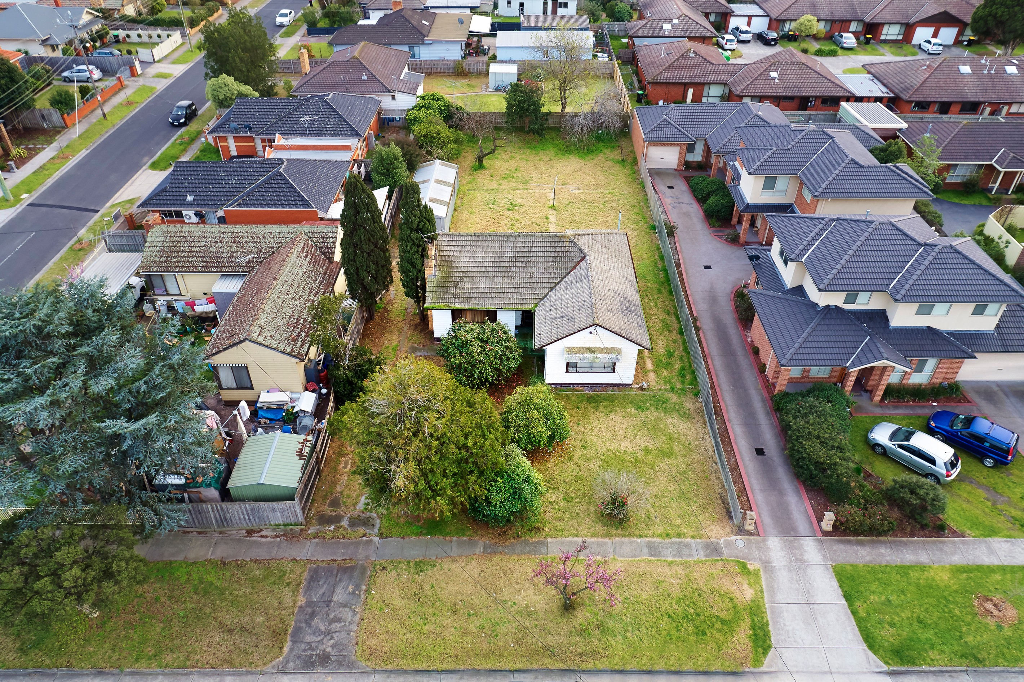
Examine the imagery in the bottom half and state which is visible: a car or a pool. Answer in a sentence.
What appears in the bottom half is a car.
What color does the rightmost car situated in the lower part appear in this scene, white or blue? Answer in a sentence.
The color of the rightmost car situated in the lower part is blue.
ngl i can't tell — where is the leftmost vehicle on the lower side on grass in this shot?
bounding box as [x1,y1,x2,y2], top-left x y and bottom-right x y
[867,425,964,486]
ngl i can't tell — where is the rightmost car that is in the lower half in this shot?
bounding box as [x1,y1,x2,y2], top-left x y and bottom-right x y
[923,411,1024,470]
